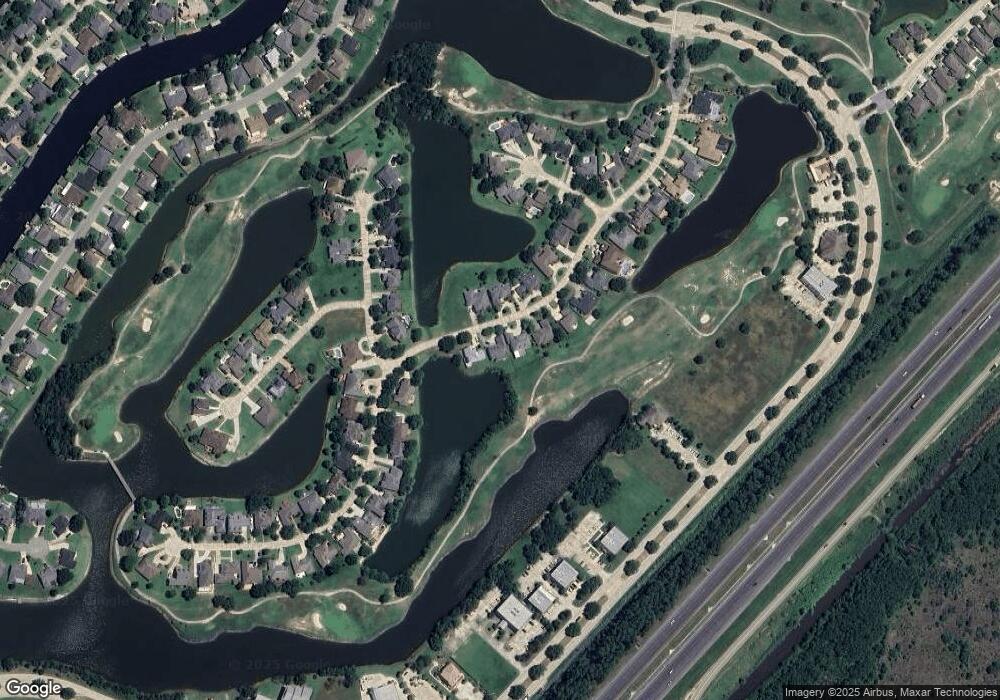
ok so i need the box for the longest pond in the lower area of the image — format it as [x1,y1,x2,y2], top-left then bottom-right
[368,356,505,575]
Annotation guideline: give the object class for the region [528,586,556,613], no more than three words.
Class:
building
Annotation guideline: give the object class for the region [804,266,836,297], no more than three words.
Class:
building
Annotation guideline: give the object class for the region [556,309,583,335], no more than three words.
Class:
house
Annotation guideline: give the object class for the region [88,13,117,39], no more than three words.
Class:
house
